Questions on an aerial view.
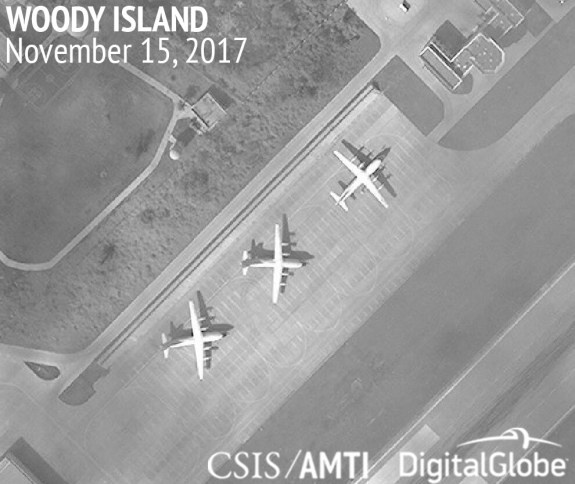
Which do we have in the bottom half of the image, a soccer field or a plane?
plane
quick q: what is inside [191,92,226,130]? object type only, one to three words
house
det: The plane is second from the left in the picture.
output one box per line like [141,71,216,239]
[242,225,311,303]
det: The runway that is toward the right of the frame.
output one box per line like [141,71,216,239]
[355,264,575,484]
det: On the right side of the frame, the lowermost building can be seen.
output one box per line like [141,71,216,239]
[421,31,503,90]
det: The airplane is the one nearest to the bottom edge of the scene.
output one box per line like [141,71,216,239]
[161,302,230,379]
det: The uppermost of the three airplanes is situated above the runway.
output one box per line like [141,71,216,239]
[328,150,390,211]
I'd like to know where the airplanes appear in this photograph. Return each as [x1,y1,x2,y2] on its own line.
[242,225,311,303]
[328,150,390,211]
[161,302,230,379]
